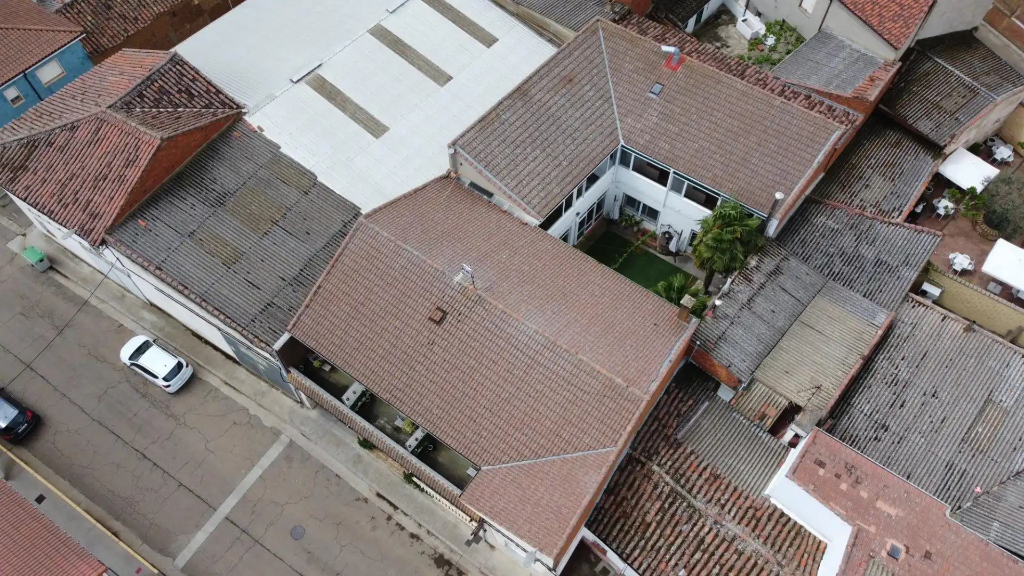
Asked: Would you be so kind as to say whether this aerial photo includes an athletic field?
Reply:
No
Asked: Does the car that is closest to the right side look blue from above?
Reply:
No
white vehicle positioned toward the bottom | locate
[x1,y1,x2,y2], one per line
[120,335,192,392]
